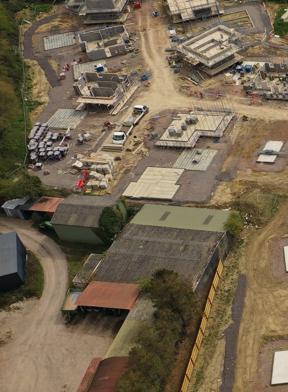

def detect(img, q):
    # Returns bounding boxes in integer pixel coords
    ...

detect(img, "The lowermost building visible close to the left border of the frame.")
[0,228,33,298]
